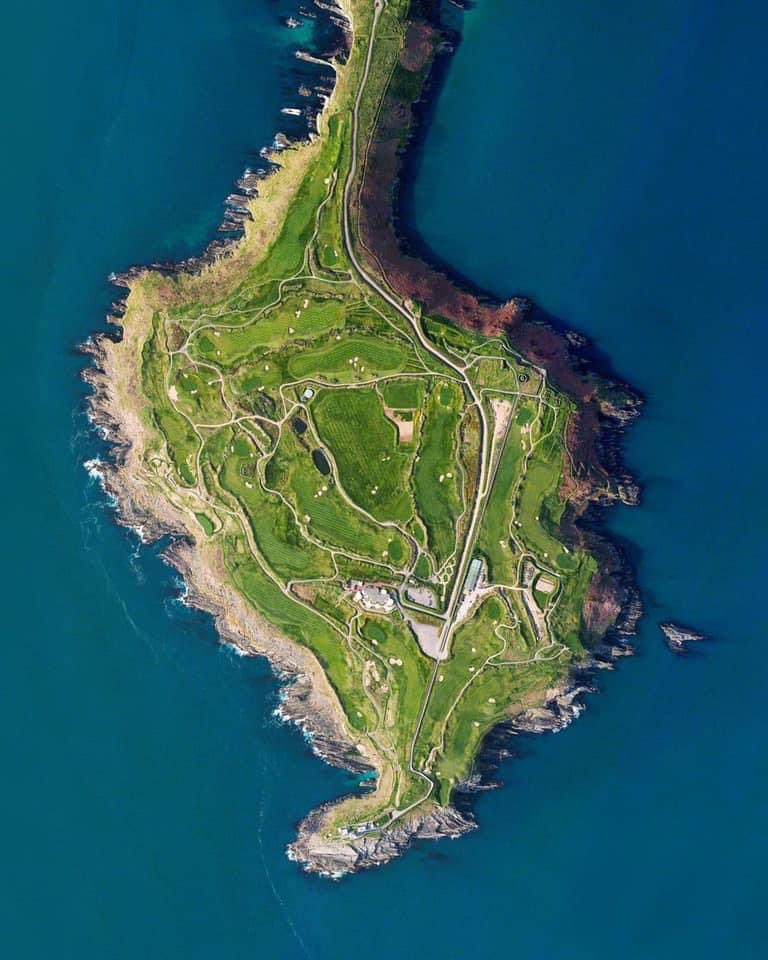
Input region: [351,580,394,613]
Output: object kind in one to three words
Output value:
building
